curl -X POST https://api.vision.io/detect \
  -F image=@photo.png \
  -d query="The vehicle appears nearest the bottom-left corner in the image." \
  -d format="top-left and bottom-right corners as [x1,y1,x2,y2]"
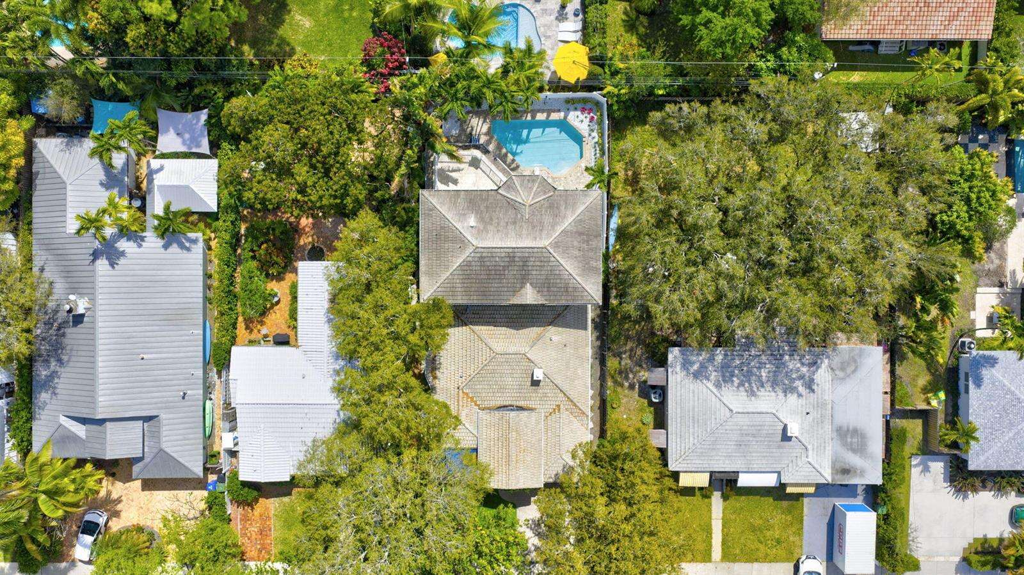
[74,507,113,564]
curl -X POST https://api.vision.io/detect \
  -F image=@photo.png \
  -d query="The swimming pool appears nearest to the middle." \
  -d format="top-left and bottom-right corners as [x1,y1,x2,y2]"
[487,115,587,178]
